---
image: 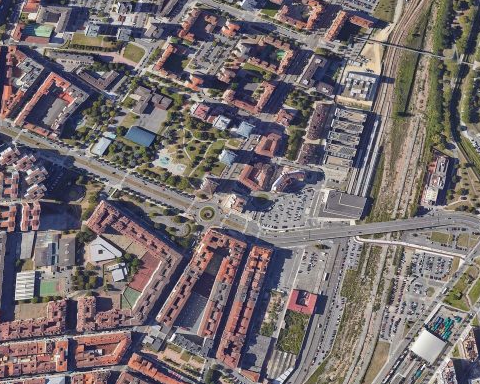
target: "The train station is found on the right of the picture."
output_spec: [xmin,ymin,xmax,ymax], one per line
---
[323,189,366,221]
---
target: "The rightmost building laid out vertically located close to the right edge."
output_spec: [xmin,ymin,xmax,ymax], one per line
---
[463,328,479,363]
